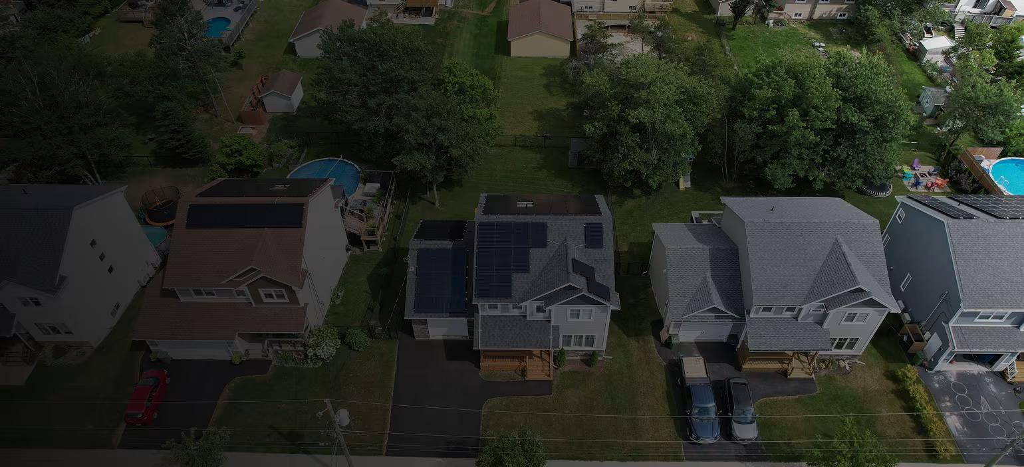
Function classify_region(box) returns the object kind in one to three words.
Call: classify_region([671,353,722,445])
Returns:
truck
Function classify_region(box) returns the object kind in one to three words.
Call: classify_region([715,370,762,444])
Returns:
car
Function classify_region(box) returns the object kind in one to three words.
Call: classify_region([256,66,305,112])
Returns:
shed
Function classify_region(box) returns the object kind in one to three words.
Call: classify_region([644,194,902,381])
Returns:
house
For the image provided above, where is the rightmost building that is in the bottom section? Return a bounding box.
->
[882,195,1024,371]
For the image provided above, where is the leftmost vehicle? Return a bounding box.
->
[123,367,174,430]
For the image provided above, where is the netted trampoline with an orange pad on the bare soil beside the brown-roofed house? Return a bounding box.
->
[130,184,181,228]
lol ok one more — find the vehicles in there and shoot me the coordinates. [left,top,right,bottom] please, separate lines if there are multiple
[671,353,722,445]
[715,370,762,444]
[123,367,174,430]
